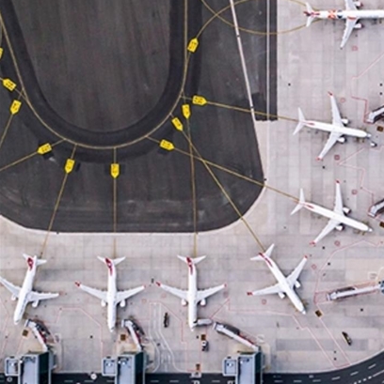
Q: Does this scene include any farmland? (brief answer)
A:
No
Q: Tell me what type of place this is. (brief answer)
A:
airport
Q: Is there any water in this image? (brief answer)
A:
No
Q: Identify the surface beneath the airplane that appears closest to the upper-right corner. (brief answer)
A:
apron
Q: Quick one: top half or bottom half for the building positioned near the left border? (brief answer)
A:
bottom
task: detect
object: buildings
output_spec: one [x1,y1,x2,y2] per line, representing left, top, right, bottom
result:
[223,352,271,384]
[4,351,58,384]
[101,352,153,384]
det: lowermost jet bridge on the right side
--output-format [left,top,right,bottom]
[212,322,265,353]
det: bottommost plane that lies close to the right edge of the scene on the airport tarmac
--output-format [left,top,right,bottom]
[294,180,371,243]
